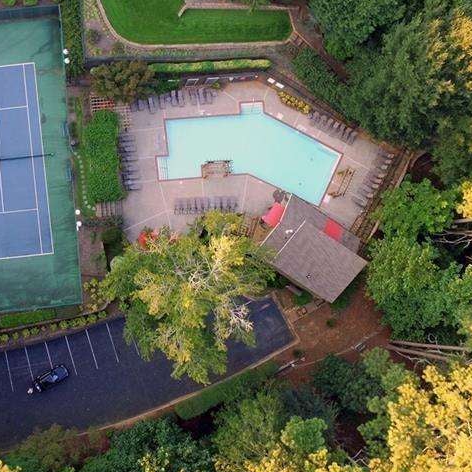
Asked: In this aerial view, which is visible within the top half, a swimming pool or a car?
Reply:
swimming pool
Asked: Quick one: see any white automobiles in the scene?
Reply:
No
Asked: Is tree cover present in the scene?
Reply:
Yes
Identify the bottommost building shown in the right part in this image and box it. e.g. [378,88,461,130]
[260,193,371,304]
